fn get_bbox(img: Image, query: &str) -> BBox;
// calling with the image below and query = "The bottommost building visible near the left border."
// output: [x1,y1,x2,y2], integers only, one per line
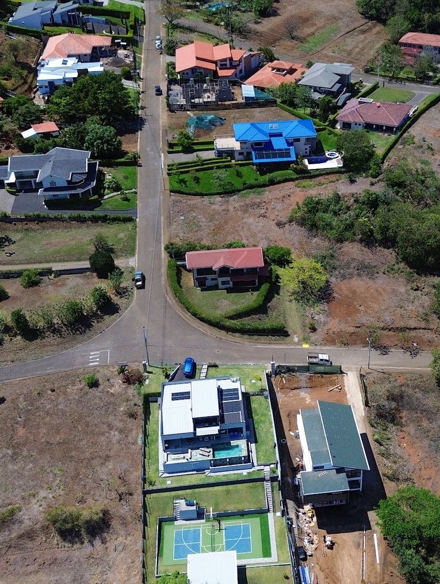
[0,150,108,207]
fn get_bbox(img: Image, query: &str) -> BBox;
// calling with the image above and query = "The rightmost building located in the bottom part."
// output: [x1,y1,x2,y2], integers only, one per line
[299,400,370,520]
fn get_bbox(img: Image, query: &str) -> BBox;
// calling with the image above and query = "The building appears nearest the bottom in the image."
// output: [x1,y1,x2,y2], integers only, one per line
[187,551,238,584]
